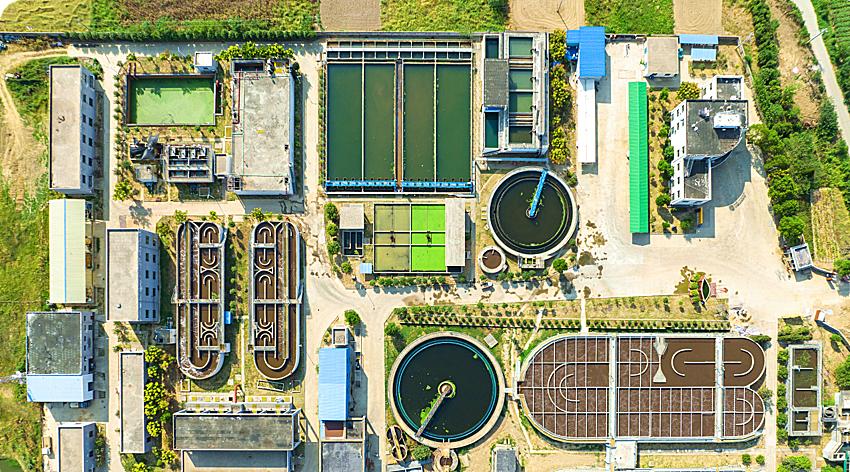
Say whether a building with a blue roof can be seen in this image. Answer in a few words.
Yes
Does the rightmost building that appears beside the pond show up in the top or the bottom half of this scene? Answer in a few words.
top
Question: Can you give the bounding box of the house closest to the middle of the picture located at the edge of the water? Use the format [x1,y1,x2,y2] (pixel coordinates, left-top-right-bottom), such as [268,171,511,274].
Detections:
[446,197,467,268]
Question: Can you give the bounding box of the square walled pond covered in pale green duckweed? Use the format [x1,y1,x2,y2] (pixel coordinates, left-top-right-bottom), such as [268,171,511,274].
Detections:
[125,73,220,129]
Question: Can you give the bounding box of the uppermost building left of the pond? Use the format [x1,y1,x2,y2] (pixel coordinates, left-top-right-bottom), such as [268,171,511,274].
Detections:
[49,65,95,194]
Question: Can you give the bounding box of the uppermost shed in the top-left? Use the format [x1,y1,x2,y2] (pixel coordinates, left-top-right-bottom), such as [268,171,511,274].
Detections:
[195,52,219,74]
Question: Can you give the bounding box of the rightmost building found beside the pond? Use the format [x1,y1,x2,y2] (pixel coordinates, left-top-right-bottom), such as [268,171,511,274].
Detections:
[232,60,295,196]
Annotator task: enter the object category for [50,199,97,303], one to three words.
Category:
shed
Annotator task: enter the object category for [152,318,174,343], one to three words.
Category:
building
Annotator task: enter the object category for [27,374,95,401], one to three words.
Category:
building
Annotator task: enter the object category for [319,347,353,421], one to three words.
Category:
house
